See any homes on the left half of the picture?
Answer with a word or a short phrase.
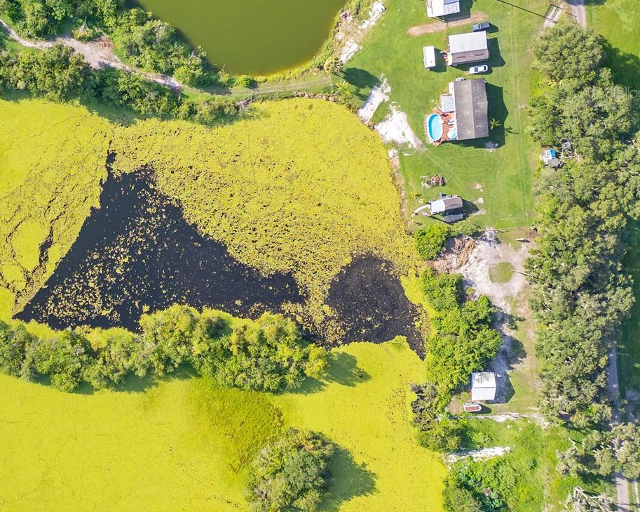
No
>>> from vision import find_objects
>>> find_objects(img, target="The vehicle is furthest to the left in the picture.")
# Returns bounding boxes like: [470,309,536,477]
[421,45,435,71]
